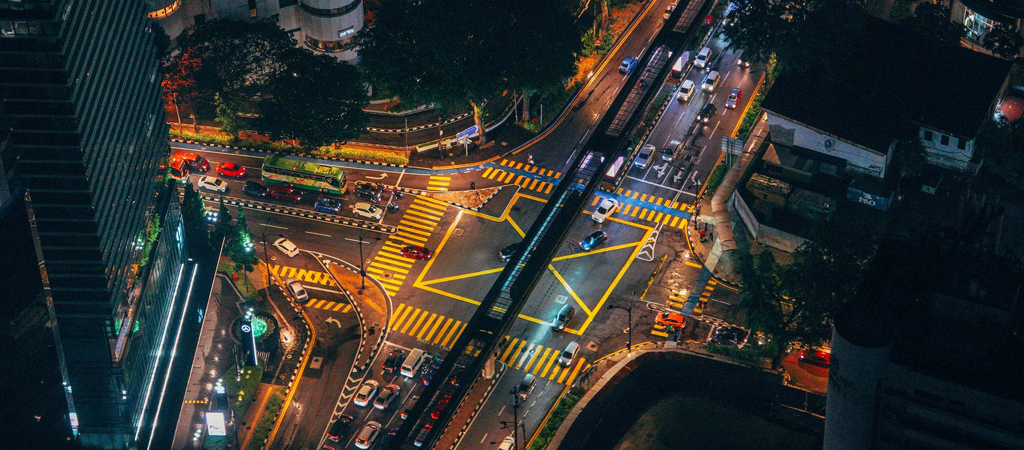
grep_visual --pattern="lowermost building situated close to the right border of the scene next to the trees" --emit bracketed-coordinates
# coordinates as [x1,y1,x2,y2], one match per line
[819,247,1024,450]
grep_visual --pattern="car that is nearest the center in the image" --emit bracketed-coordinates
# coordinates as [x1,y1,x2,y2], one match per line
[498,244,517,260]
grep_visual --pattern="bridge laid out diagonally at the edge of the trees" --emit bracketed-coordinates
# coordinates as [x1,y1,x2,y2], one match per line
[398,0,717,450]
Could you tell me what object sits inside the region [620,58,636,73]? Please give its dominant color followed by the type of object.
blue car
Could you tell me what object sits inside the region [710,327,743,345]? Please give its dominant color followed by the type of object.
black car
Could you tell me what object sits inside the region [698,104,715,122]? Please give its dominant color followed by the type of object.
black car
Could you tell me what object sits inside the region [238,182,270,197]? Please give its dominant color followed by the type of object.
black vehicle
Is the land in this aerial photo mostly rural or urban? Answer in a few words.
urban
